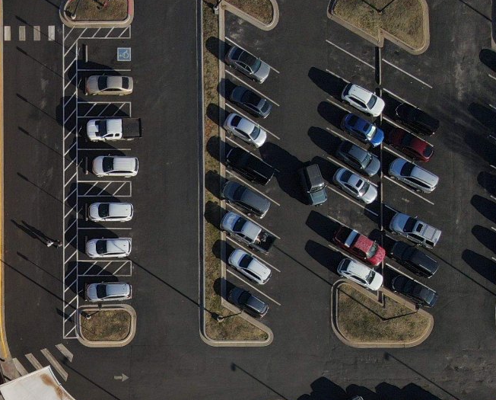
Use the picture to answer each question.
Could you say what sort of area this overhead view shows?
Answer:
parking lot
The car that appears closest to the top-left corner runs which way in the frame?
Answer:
from left to right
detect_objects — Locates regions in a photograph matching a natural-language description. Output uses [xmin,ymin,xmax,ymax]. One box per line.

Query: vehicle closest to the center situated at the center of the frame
[221,179,272,218]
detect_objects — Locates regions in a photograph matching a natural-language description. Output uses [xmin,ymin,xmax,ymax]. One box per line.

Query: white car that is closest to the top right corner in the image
[338,80,385,118]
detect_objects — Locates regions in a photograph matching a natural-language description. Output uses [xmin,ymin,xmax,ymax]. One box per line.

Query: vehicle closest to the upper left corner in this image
[86,71,132,95]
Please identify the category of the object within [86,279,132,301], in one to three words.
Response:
car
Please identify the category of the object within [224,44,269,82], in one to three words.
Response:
car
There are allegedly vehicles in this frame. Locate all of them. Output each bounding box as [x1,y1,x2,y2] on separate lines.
[387,127,434,163]
[86,115,143,142]
[328,223,387,268]
[221,179,272,218]
[225,248,272,285]
[86,235,132,257]
[86,279,132,301]
[87,199,133,223]
[226,83,274,120]
[390,211,441,250]
[220,143,280,188]
[393,100,440,137]
[300,161,328,206]
[389,274,438,310]
[222,282,270,319]
[391,239,440,277]
[335,255,382,292]
[338,80,385,118]
[224,44,269,82]
[90,154,140,177]
[220,210,280,254]
[338,111,384,149]
[334,139,381,176]
[331,165,377,202]
[86,71,132,95]
[388,156,440,195]
[221,111,266,148]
